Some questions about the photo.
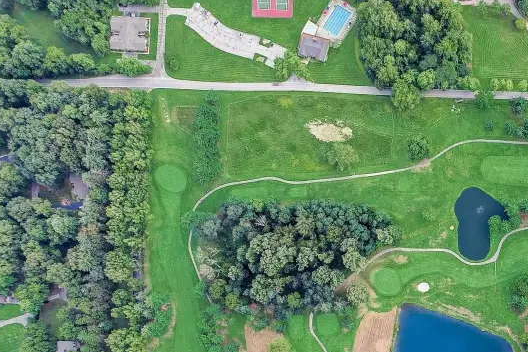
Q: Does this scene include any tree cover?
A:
Yes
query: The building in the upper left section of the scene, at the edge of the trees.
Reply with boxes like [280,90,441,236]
[110,13,151,55]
